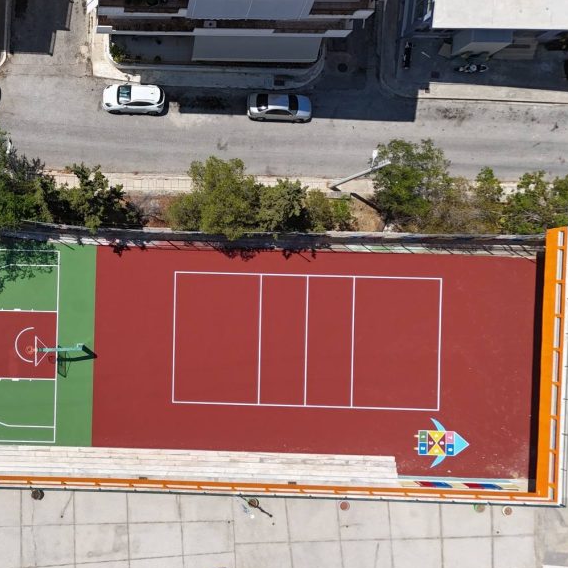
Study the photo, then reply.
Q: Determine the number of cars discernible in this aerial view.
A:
2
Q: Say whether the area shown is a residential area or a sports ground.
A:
sports ground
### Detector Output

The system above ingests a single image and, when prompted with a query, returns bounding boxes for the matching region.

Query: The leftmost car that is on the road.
[101,80,165,117]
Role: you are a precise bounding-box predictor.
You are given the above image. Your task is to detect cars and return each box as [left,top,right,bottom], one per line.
[245,91,311,125]
[101,80,165,117]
